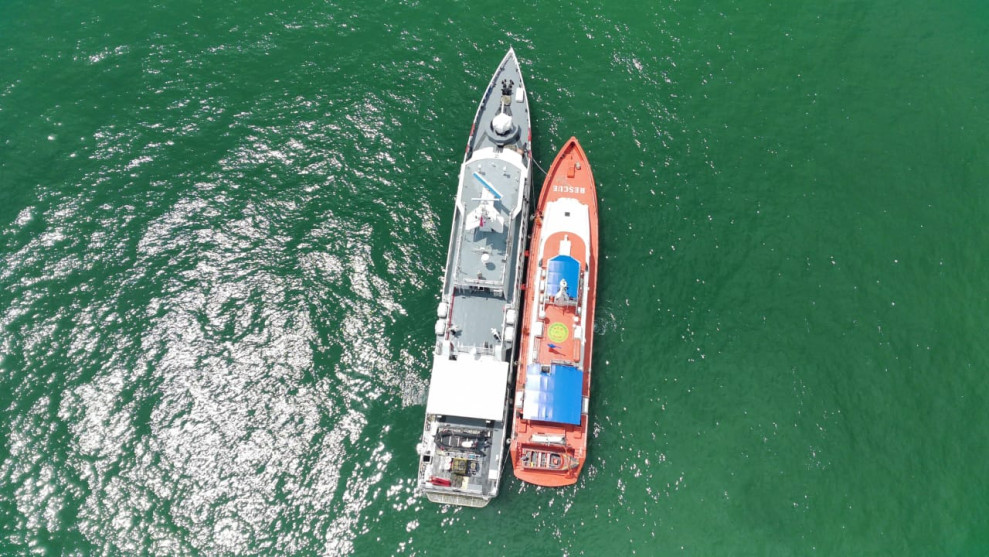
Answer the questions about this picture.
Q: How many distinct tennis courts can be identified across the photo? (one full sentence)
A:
There are no tennis courts in the image.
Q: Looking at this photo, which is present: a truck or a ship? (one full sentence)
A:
The image shows a ship.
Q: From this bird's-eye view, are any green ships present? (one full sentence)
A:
No, there's no green ship here.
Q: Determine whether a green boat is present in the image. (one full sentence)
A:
No, I can't see a single green boat in this photo.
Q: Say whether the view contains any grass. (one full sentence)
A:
No, grass can't be seen anywhere here.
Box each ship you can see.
[416,44,530,509]
[510,136,599,487]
